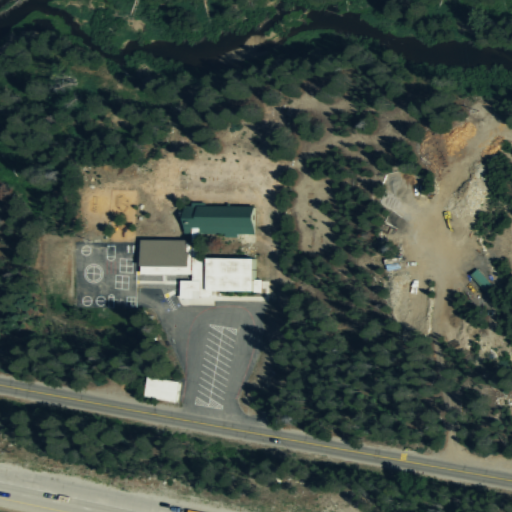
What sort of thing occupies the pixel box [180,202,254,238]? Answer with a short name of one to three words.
building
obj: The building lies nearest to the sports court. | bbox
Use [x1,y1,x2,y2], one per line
[140,240,192,274]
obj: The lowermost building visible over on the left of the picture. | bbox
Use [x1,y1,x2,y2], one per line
[144,378,182,402]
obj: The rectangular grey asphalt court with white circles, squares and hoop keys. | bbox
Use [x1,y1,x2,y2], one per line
[76,242,136,308]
